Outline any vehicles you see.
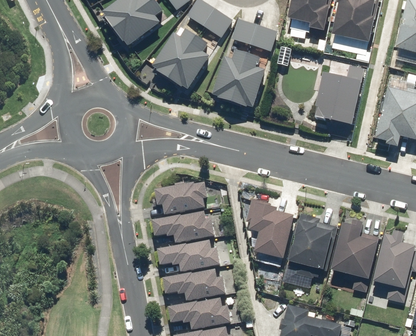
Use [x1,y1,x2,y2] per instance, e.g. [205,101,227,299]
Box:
[118,288,126,302]
[253,8,262,24]
[257,168,270,176]
[410,176,416,182]
[352,192,366,200]
[136,266,142,280]
[170,324,184,332]
[324,208,332,223]
[372,220,380,236]
[365,165,381,173]
[390,200,408,210]
[195,129,211,138]
[40,99,52,113]
[400,139,407,154]
[288,146,304,154]
[124,316,132,332]
[146,208,160,216]
[164,266,178,274]
[364,219,372,234]
[273,304,286,318]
